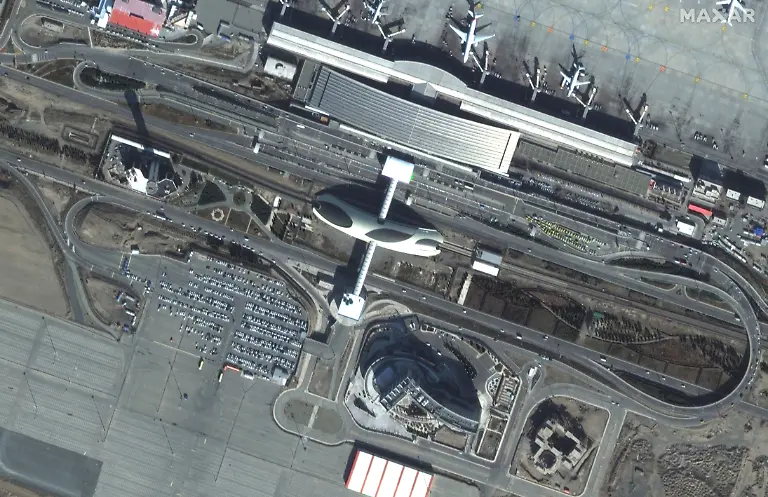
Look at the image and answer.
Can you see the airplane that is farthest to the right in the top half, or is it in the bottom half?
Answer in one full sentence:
The airplane that is farthest to the right is in the top half of the image.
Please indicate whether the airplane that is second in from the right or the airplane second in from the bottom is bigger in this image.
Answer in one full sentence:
The airplane second in from the bottom covers a greater area than the airplane that is second in from the right.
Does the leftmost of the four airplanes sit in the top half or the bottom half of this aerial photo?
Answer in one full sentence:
It is in the top half that the leftmost of the four airplanes appears.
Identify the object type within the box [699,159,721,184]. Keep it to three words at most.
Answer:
building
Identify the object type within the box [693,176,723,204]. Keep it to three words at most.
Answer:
building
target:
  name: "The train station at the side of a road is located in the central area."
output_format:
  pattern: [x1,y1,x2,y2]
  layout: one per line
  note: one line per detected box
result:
[313,202,445,253]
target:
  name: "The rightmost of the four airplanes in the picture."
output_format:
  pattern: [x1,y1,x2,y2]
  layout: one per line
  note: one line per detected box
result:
[716,0,748,24]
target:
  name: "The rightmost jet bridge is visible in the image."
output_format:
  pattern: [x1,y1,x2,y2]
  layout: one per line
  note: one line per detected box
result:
[625,105,649,135]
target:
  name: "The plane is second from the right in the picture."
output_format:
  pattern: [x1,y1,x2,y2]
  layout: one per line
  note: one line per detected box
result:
[560,66,590,97]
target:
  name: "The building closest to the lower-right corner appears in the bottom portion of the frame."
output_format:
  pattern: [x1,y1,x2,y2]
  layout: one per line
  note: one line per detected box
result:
[536,414,584,472]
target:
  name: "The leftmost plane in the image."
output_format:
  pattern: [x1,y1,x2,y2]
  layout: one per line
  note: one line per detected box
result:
[364,0,394,23]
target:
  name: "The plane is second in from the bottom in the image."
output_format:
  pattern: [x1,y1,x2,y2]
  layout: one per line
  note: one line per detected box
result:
[448,14,494,63]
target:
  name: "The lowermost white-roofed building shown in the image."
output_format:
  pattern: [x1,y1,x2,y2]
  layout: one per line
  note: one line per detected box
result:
[346,448,435,497]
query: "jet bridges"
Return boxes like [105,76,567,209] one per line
[524,66,542,100]
[625,105,649,135]
[281,0,291,16]
[572,85,596,118]
[375,20,407,51]
[322,4,350,33]
[470,49,490,82]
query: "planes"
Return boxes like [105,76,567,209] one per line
[448,14,494,63]
[716,0,748,24]
[560,66,590,97]
[364,0,394,23]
